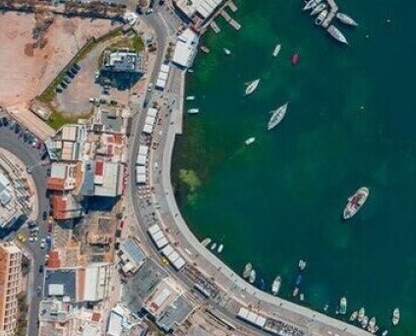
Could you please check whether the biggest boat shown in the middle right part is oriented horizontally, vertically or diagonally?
diagonally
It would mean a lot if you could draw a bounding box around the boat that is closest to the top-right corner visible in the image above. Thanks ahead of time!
[335,13,356,25]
